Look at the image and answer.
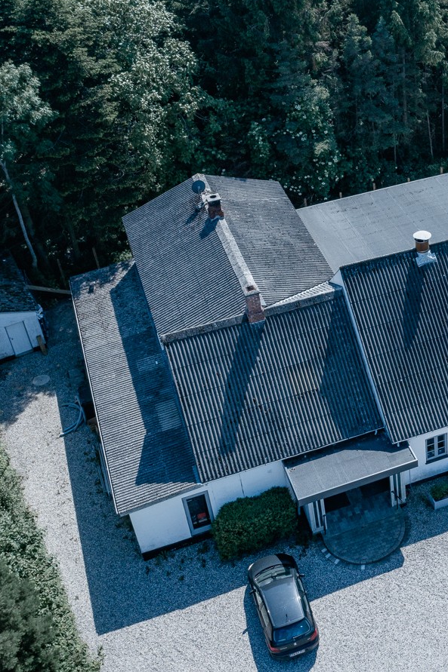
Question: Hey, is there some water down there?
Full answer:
No, there is no water in the image.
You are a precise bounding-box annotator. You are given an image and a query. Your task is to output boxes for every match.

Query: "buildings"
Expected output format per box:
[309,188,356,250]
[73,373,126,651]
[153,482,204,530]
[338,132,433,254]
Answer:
[66,171,448,558]
[0,246,47,357]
